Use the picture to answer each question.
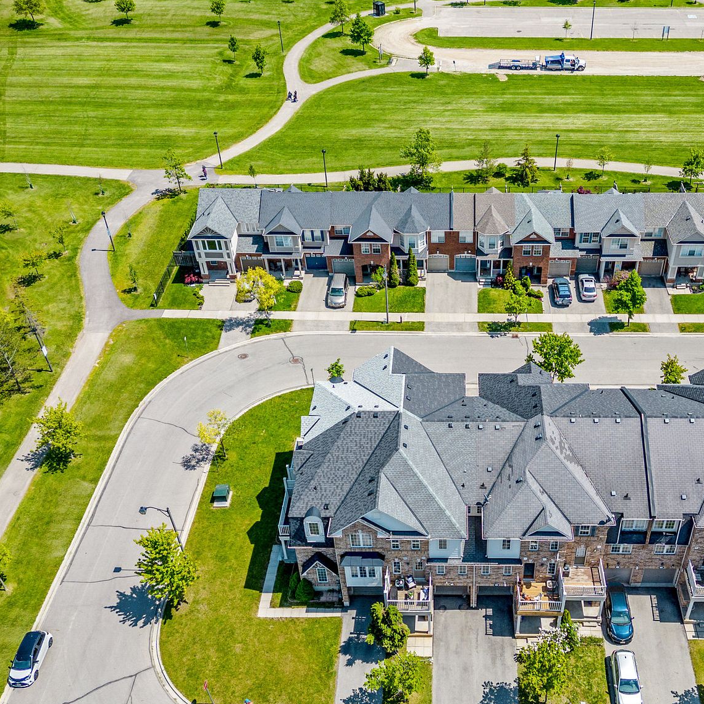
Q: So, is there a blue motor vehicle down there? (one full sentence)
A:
Yes, the photo shows a blue motor vehicle.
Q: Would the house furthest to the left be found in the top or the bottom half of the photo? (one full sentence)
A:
It is in the top half that the house furthest to the left appears.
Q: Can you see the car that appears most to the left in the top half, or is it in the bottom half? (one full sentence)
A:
It is in the bottom half that the car that appears most to the left appears.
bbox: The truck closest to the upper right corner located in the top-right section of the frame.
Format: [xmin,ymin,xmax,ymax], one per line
[543,50,592,73]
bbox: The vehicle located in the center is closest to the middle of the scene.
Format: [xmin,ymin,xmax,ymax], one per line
[327,272,350,305]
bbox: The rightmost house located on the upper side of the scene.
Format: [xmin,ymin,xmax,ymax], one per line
[637,193,704,285]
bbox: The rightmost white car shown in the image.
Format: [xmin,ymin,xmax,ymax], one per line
[608,650,643,704]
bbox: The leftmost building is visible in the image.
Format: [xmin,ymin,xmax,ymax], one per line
[188,188,268,285]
